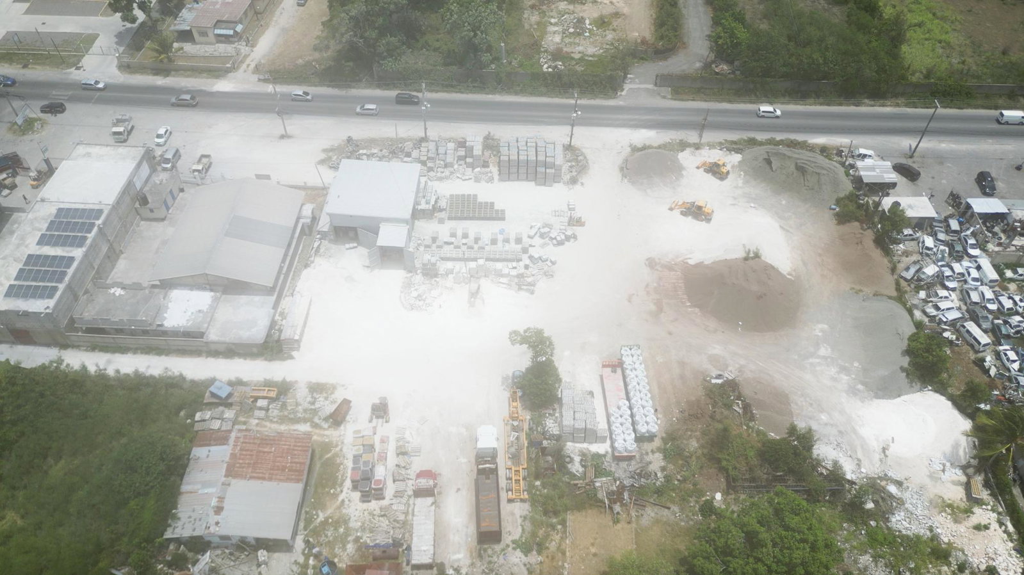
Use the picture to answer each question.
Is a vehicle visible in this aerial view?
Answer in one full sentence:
Yes, you can see a vehicle in this photo.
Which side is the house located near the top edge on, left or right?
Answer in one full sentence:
The house located near the top edge is on the left side of the image.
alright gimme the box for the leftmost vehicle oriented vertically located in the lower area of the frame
[368,389,392,434]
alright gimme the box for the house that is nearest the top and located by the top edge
[170,0,255,41]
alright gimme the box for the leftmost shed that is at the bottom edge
[162,429,315,547]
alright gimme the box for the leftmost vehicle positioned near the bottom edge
[410,469,439,571]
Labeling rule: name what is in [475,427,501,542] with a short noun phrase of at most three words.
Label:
truck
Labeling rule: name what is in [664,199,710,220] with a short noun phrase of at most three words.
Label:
work vehicle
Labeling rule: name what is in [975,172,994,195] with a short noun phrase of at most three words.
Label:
car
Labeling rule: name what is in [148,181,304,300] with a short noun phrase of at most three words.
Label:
shed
